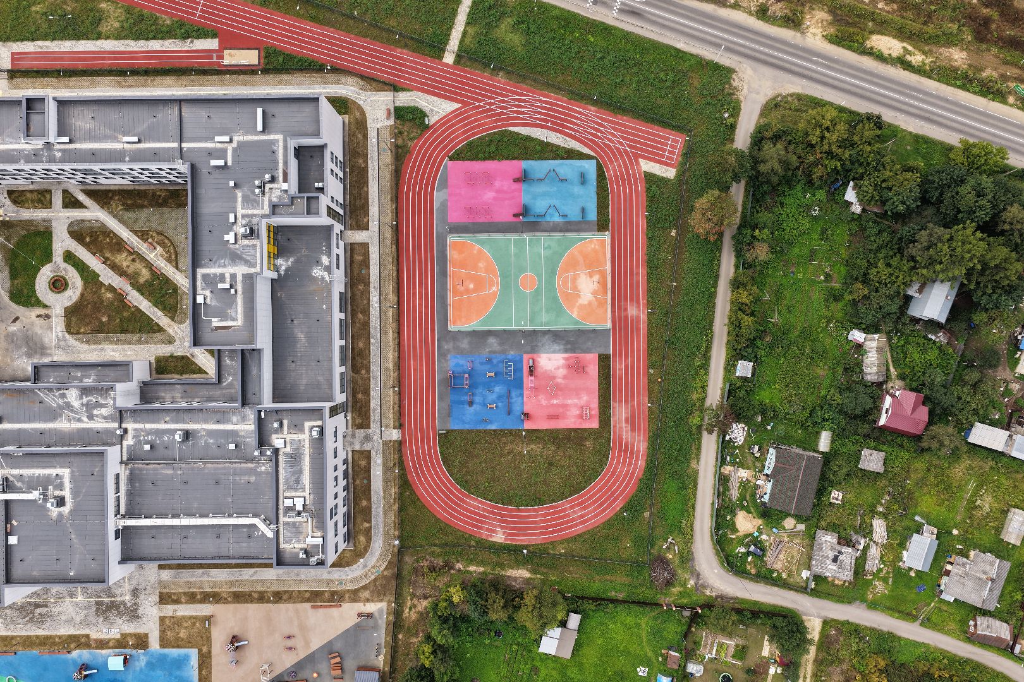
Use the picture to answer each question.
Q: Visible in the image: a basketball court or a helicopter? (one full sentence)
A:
The one in the frame is a basketball court.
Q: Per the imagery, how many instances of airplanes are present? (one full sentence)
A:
There are no airplanes in the image.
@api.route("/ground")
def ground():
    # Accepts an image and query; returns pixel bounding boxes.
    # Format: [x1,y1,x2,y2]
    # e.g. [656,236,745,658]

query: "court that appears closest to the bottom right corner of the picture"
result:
[524,354,598,428]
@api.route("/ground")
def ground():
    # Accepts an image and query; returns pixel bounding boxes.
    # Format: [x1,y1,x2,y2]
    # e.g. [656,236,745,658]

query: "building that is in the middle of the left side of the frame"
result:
[0,94,358,607]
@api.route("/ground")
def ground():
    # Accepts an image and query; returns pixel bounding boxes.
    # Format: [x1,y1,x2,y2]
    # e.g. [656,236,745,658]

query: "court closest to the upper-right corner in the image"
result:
[522,160,597,221]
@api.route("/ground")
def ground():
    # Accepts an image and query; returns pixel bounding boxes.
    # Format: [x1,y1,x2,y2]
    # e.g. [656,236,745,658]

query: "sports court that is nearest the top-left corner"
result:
[448,160,522,222]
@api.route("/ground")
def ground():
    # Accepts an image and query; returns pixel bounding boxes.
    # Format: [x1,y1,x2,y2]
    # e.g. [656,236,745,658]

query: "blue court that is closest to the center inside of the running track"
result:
[450,354,524,429]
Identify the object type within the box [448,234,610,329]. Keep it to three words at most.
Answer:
basketball court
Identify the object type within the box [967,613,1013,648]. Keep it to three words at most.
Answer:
barn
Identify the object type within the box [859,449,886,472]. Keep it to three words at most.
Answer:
shed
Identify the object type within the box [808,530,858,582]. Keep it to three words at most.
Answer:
house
